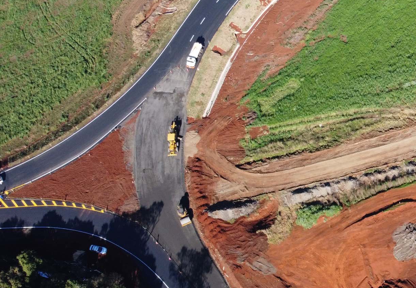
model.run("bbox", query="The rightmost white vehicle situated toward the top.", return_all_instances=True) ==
[184,41,204,72]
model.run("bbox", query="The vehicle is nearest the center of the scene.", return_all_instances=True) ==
[166,122,180,157]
